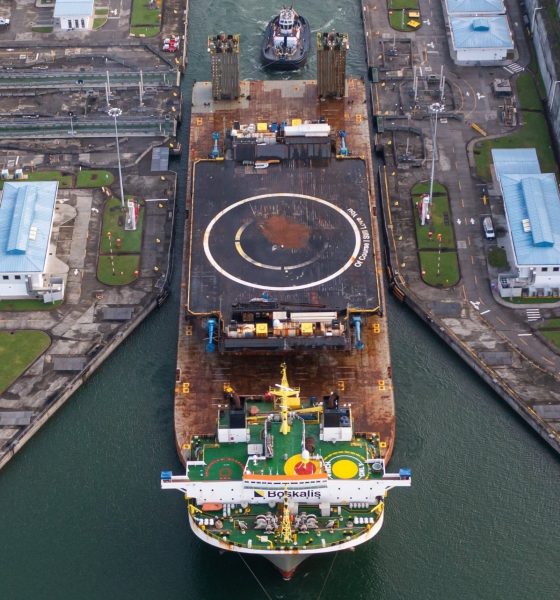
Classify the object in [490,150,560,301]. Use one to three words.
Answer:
building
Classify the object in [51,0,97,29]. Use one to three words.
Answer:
building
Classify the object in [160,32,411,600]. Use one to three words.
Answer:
ship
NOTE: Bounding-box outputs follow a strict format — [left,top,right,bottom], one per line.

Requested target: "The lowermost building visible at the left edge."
[0,181,59,305]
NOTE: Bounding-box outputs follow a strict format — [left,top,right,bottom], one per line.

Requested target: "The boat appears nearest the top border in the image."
[257,4,310,77]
